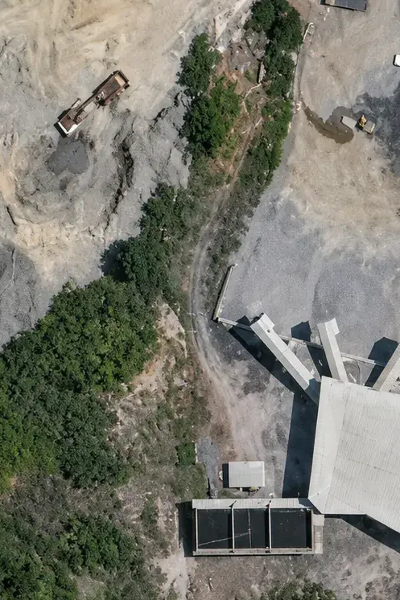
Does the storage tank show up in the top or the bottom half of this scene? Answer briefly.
bottom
